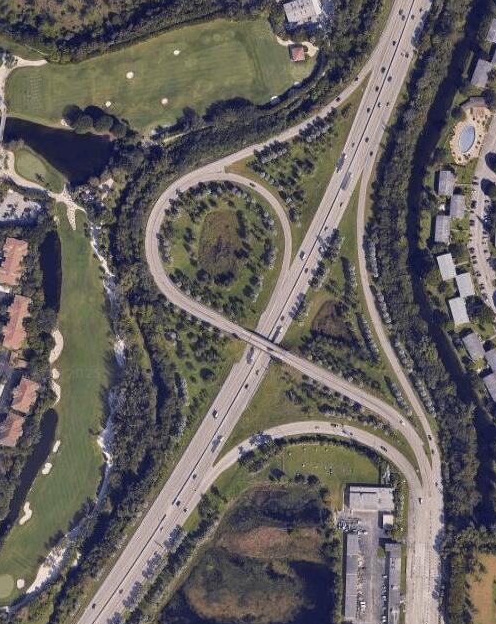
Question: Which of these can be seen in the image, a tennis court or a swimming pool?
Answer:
swimming pool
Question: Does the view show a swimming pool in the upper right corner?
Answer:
Yes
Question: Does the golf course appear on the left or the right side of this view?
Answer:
left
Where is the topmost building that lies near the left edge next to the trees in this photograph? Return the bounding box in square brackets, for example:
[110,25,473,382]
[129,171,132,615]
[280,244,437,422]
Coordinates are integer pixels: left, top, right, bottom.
[0,237,27,285]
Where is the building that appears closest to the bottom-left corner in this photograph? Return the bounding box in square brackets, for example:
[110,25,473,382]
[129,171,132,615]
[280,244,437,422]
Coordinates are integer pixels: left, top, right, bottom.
[1,414,23,446]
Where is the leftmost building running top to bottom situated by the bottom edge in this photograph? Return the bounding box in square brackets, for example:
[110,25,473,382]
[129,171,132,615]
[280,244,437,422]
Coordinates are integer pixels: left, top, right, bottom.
[345,544,358,618]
